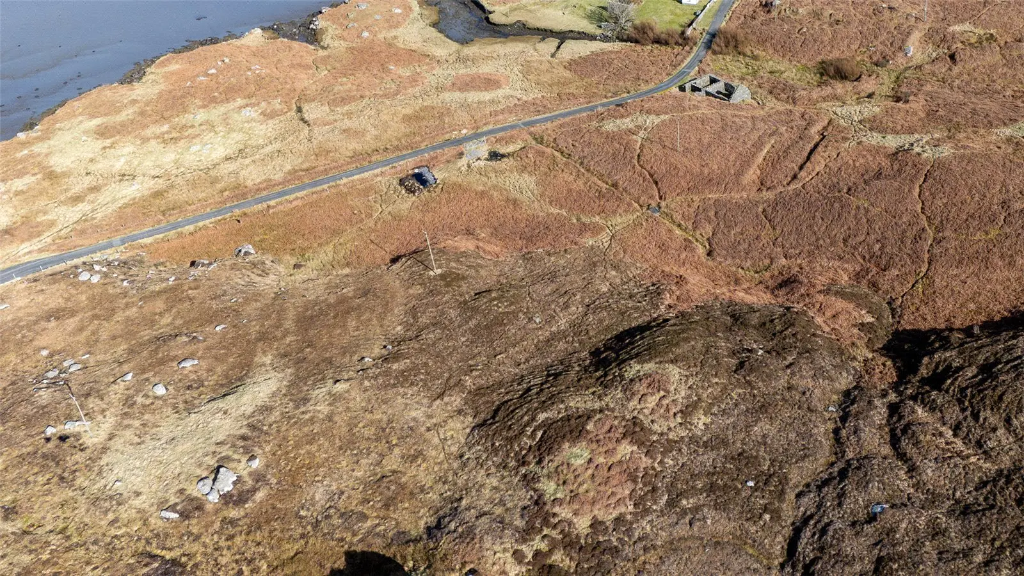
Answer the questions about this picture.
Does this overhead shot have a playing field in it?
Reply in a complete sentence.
No, I can't see a single playing field in this photo.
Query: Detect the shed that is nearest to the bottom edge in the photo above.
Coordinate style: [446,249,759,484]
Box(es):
[403,164,439,194]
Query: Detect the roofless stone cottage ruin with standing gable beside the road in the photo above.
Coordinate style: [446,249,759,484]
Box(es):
[679,75,751,106]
